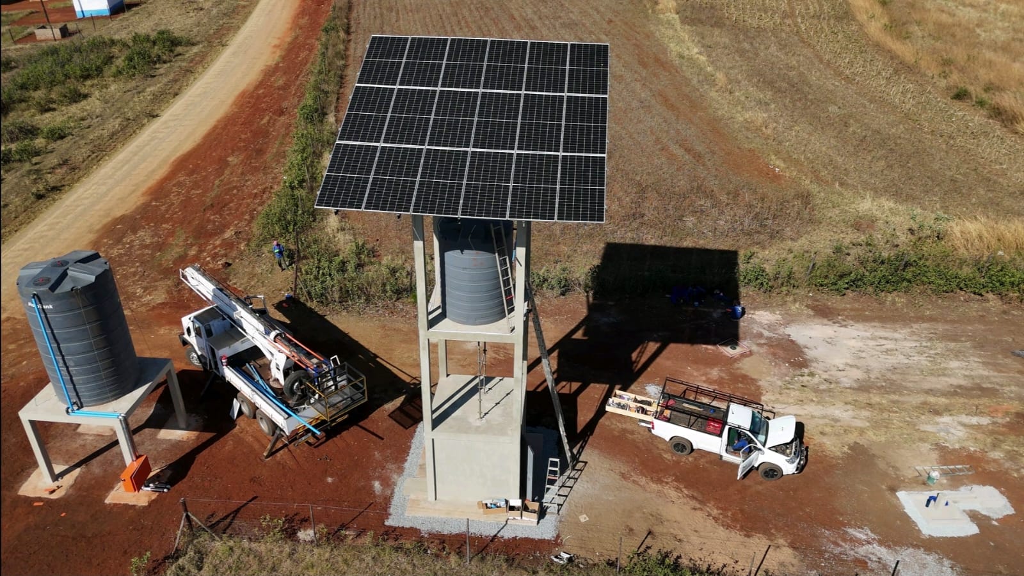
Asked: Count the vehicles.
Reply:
2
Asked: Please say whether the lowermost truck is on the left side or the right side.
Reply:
right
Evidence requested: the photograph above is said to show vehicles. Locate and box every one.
[178,261,354,461]
[606,378,807,483]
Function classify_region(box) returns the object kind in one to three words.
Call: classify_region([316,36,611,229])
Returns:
solar array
